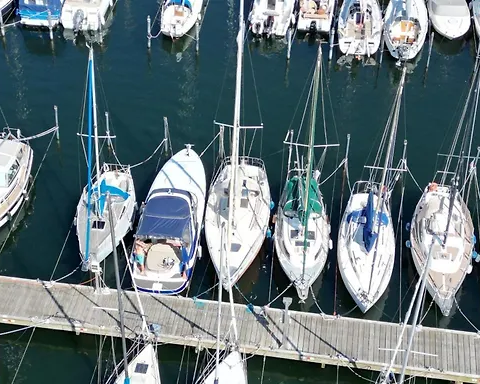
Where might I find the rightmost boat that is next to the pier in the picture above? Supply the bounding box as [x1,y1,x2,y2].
[409,34,480,318]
